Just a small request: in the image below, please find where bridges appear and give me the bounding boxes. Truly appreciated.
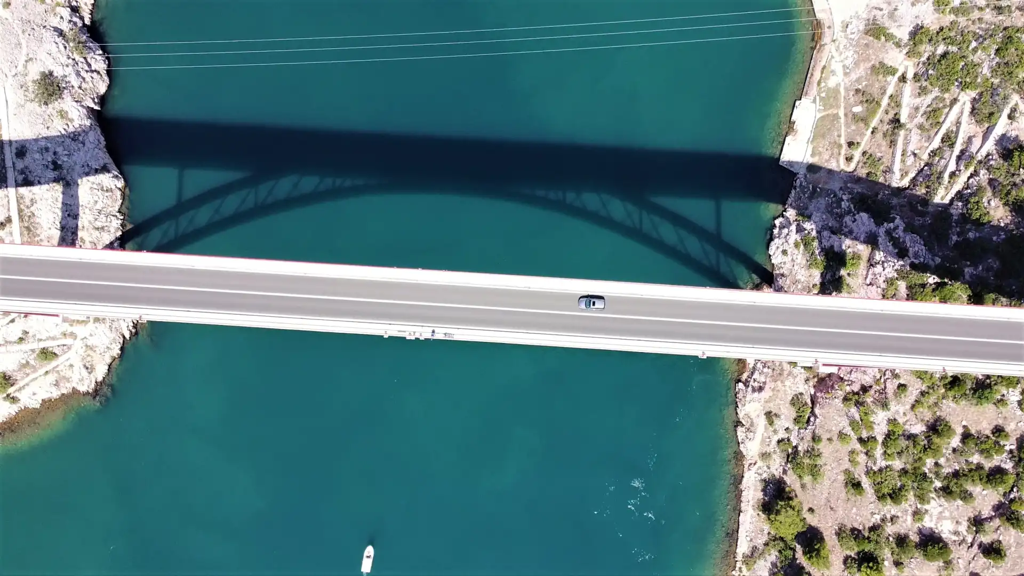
[0,242,1024,379]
